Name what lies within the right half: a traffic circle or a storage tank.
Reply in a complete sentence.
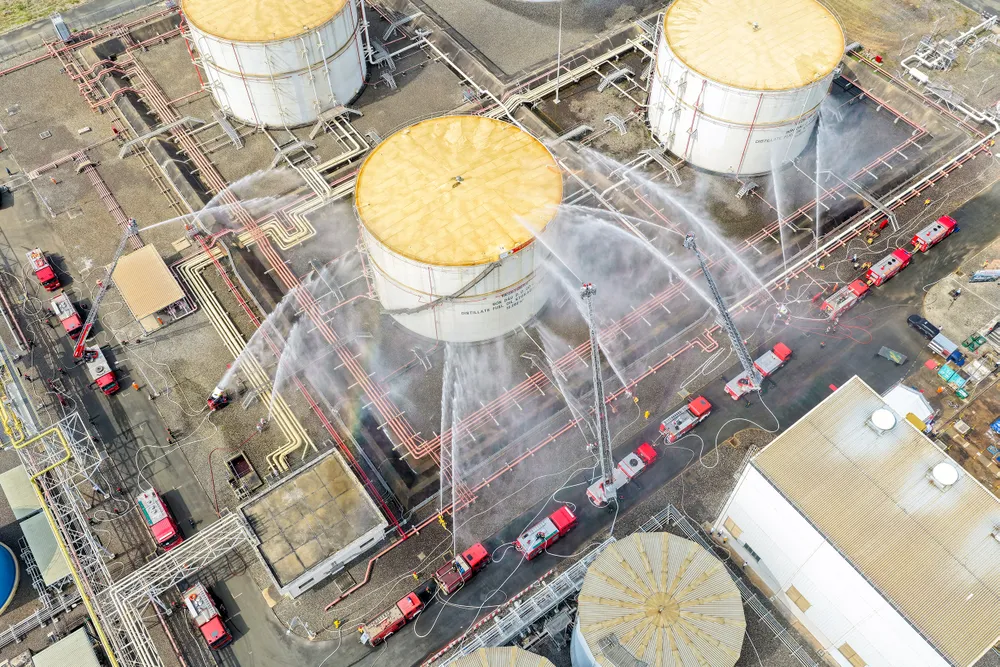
It is a storage tank that can be seen within the right half.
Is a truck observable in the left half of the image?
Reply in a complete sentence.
Yes, you'll find a truck in the left half of the image.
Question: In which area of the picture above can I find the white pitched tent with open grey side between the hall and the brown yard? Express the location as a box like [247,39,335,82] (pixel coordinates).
[883,383,935,424]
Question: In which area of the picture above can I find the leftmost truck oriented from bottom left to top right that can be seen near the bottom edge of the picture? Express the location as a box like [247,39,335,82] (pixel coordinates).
[361,588,431,650]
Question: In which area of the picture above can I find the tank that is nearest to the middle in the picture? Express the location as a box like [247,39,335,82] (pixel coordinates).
[353,108,565,348]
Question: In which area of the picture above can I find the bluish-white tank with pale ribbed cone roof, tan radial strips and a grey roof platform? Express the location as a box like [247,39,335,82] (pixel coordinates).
[571,532,747,667]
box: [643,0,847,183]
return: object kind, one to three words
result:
storage tank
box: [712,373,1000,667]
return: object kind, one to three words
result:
building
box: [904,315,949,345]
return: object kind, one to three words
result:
car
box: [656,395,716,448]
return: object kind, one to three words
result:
truck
